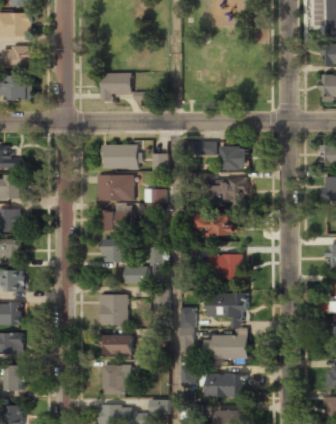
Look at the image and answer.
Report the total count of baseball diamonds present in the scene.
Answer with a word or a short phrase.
0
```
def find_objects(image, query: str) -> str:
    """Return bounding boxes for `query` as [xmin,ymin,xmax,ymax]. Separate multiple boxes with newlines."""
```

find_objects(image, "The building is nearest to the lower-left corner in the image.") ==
[6,406,24,424]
